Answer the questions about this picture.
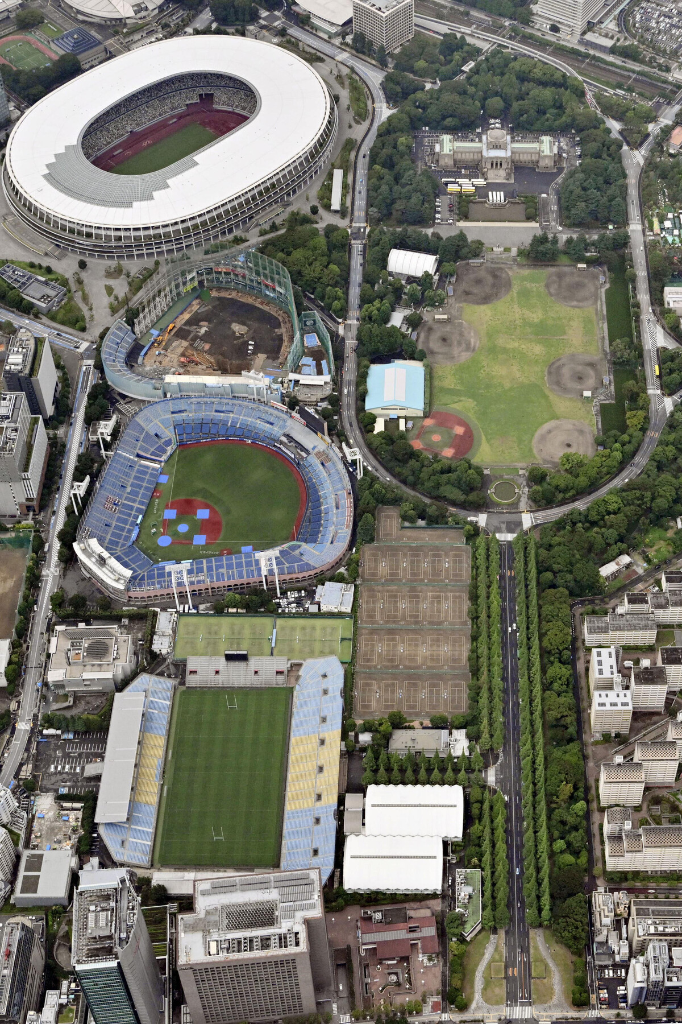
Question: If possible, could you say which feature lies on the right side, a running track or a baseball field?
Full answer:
You can see a baseball field on the right side.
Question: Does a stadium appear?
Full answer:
Yes, the image includes a stadium.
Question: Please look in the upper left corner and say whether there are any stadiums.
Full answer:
Yes, in the upper left corner there is a stadium.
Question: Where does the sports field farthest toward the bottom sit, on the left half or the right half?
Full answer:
The sports field farthest toward the bottom appears in the left half of the scene.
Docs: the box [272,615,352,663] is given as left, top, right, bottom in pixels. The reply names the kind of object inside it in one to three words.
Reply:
sports court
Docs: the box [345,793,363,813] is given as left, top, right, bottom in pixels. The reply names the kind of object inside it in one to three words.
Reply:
building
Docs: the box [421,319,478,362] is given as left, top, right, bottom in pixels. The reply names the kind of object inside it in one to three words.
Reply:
baseball field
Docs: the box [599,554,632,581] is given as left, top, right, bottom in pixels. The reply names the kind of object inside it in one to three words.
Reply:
house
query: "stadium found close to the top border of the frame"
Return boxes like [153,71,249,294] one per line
[0,34,338,265]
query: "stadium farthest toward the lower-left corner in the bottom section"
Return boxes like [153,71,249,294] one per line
[83,655,345,893]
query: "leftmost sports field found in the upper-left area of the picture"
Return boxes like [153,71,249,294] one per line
[0,41,60,80]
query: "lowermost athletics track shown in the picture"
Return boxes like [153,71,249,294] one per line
[94,107,251,172]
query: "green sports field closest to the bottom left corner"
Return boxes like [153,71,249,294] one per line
[159,689,291,864]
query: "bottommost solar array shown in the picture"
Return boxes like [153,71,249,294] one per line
[200,874,316,920]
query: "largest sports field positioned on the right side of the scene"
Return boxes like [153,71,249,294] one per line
[422,266,605,465]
